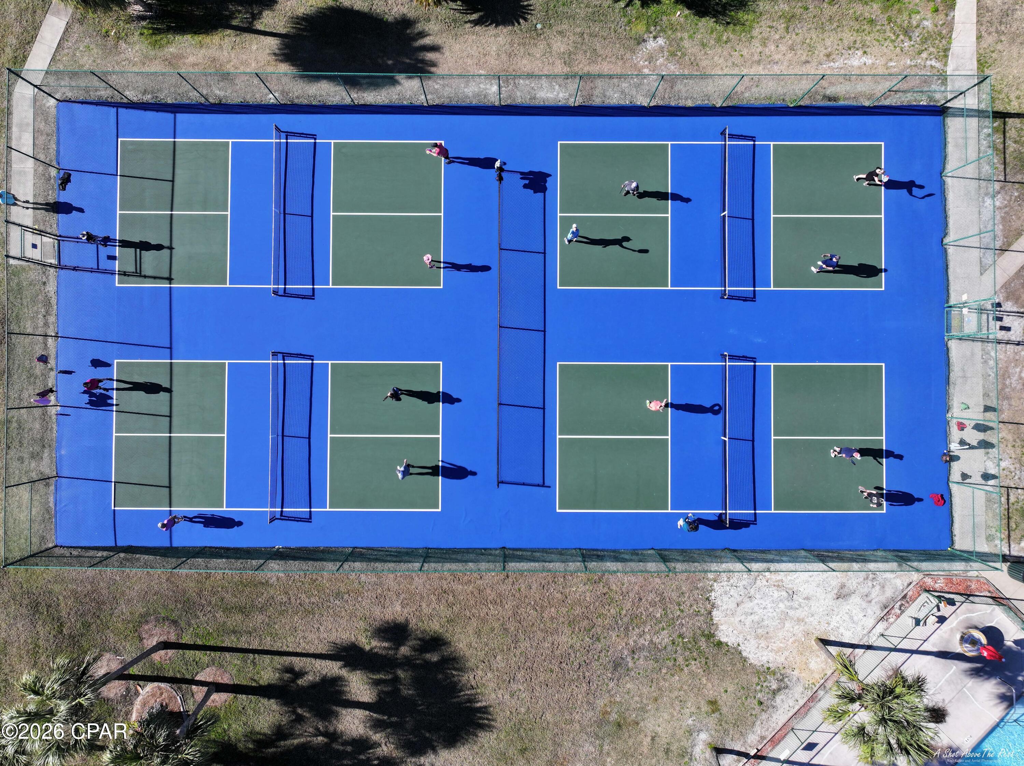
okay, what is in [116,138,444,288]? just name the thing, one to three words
sports court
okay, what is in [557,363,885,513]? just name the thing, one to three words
sports court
